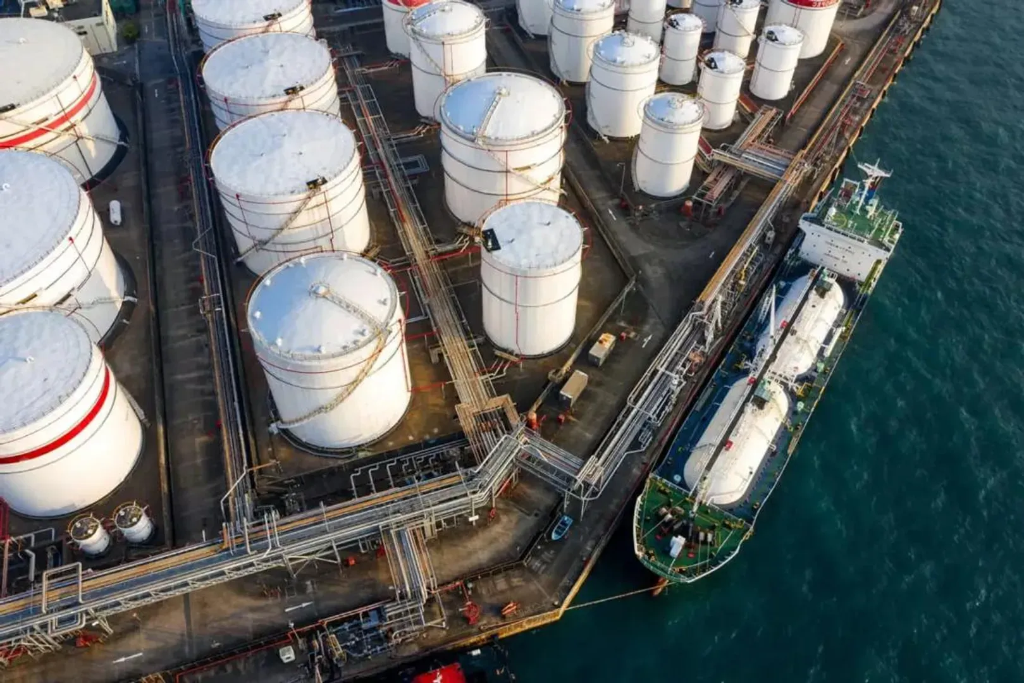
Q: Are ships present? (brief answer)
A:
Yes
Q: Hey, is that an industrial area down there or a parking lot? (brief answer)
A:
industrial area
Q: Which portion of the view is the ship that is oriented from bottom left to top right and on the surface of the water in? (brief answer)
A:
right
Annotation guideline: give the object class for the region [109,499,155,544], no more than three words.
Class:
storage tank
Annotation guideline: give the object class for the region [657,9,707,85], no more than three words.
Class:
storage tank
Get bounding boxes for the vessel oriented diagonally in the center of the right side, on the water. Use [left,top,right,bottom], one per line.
[628,149,909,595]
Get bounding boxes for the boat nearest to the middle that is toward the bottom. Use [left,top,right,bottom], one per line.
[552,512,574,537]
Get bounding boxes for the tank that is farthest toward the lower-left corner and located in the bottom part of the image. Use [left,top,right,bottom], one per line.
[66,511,112,556]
